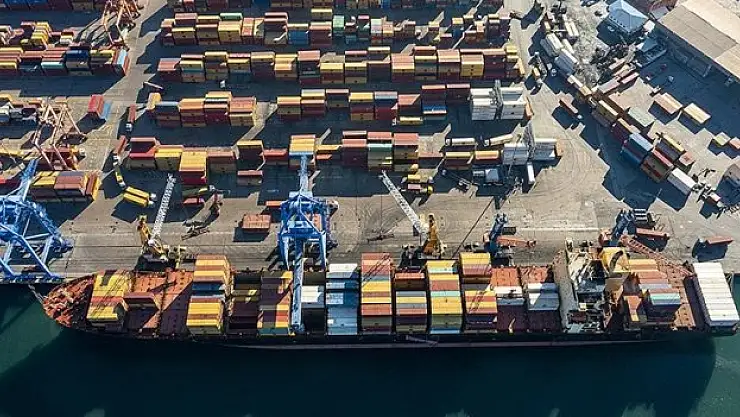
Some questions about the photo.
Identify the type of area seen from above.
port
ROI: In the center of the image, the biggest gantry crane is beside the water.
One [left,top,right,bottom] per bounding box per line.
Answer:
[273,151,333,335]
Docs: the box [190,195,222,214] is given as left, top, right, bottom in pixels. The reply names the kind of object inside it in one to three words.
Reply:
work vehicle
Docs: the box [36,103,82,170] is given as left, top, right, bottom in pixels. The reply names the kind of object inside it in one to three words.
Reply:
crane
